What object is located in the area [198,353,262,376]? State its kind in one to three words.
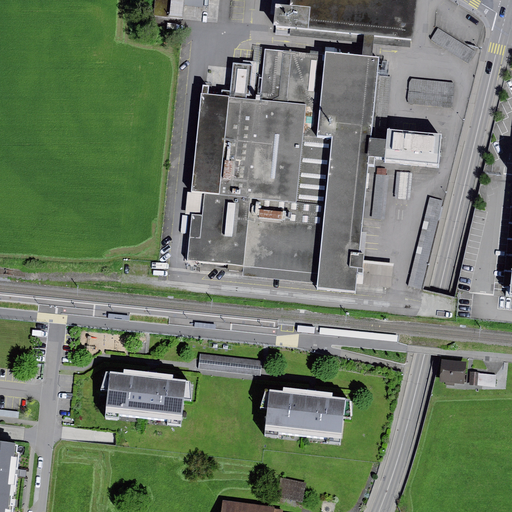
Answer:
building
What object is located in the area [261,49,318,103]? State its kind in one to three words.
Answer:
building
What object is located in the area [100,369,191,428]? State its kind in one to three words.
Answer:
house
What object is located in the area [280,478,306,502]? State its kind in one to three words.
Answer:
shed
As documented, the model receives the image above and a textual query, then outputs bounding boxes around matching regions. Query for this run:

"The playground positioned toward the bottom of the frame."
[79,330,144,354]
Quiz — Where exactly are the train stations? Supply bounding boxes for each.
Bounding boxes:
[0,294,398,342]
